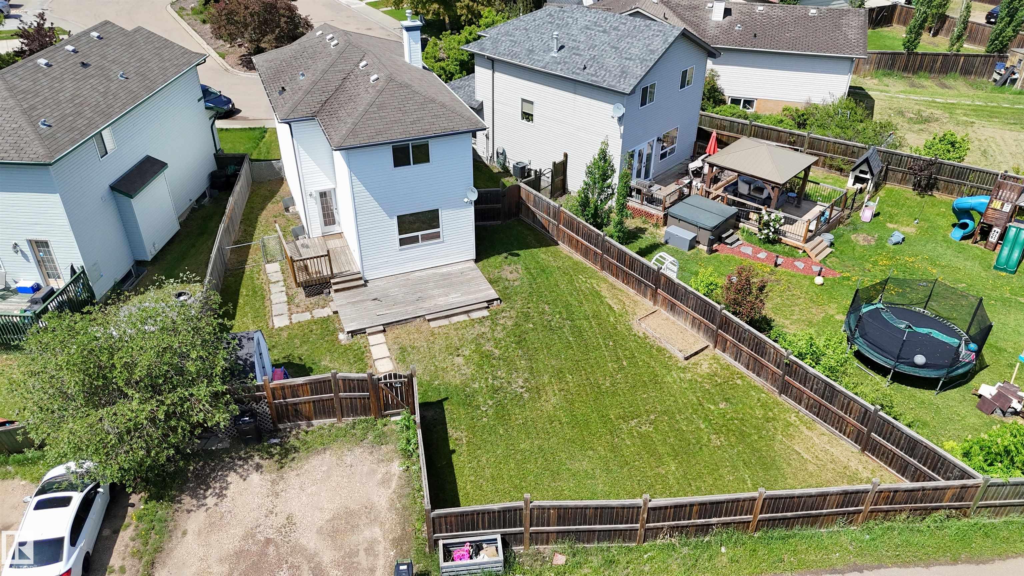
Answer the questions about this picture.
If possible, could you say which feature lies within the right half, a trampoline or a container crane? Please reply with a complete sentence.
There is a trampoline within the right half.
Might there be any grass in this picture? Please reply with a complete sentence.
Yes, there is grass in the image.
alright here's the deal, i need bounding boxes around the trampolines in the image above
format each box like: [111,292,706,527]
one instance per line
[842,265,987,395]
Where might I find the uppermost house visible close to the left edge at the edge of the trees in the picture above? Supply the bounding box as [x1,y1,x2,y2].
[0,22,228,300]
